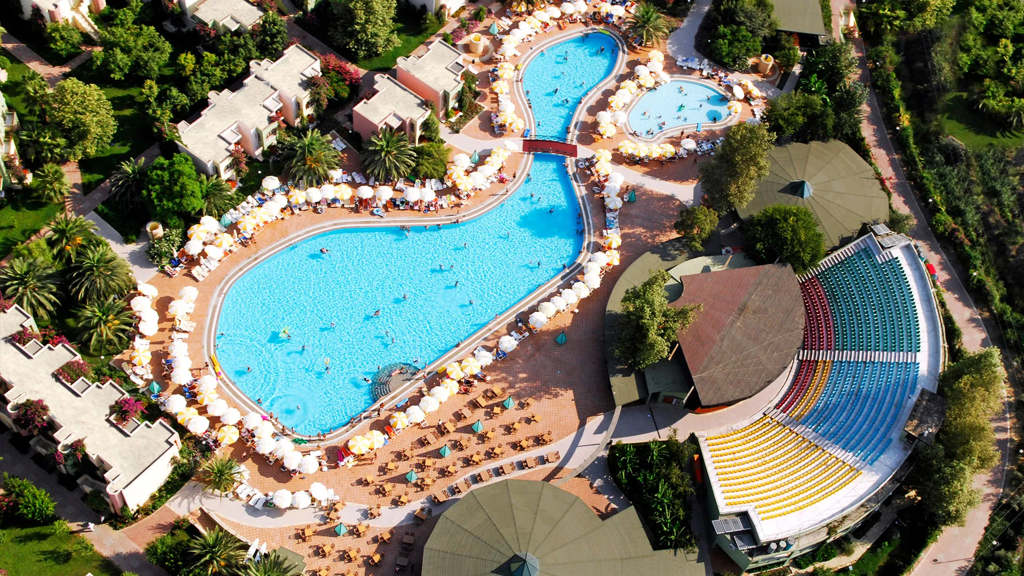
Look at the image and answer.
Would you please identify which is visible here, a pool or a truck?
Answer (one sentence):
Visible in the photo is a pool.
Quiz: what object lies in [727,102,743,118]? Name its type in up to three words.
umbrella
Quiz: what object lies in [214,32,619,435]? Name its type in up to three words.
swimming pool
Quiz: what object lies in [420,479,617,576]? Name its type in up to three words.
shed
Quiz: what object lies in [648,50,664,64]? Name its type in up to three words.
umbrella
